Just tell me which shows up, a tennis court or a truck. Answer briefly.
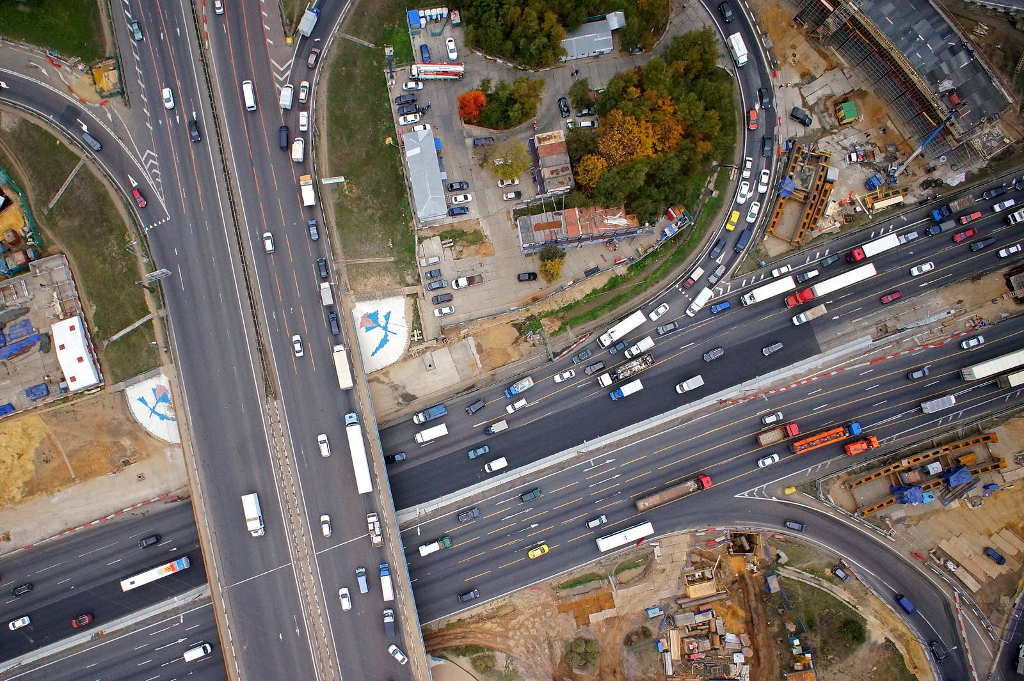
truck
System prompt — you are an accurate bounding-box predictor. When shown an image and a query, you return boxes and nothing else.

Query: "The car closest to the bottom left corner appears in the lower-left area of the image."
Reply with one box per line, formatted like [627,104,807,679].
[8,615,33,631]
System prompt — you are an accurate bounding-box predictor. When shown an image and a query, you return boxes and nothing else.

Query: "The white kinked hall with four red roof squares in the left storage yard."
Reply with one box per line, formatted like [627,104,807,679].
[53,316,112,392]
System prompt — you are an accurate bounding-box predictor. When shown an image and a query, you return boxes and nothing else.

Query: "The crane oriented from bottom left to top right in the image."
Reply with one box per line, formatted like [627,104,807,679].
[860,103,969,192]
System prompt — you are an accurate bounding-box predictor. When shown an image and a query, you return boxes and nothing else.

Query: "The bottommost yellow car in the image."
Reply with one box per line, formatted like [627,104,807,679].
[527,544,549,559]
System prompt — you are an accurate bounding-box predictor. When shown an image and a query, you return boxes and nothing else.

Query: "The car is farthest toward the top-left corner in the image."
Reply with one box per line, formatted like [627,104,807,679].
[131,19,143,42]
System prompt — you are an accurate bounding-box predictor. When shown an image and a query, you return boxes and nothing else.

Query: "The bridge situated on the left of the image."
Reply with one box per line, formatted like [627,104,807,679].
[162,333,433,681]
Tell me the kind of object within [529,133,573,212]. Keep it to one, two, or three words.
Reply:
house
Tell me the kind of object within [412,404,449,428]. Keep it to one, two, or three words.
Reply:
truck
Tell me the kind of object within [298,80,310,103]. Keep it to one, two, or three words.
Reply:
vehicle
